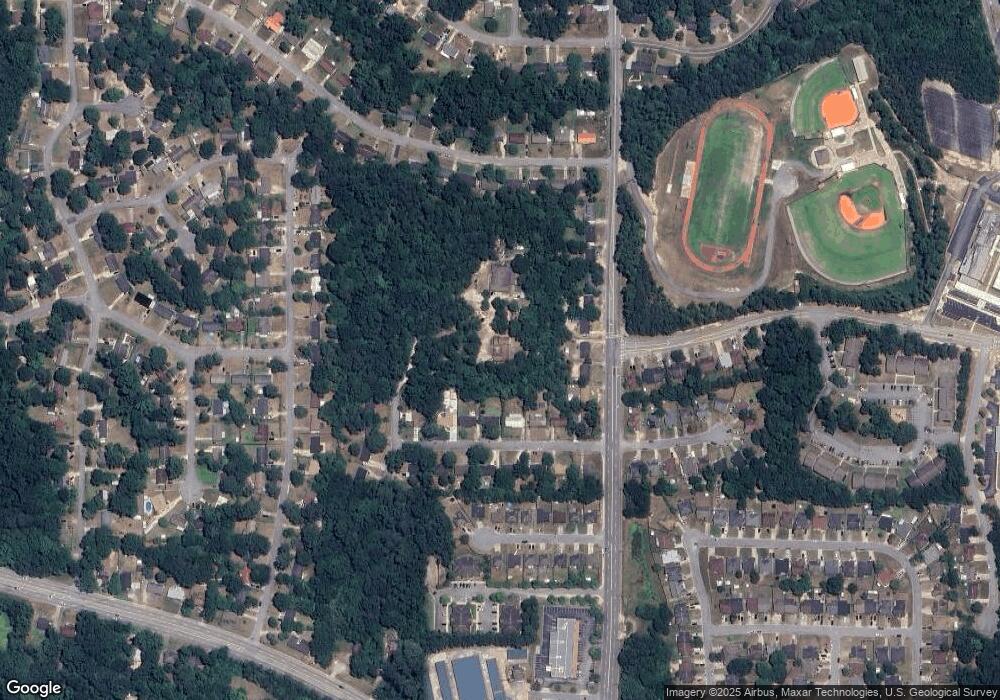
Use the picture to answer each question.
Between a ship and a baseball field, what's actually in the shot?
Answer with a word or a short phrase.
baseball field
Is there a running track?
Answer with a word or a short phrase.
Yes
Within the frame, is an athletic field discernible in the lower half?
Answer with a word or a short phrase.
No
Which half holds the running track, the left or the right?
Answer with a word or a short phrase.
right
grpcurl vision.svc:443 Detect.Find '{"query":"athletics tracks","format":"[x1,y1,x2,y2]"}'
[680,101,771,274]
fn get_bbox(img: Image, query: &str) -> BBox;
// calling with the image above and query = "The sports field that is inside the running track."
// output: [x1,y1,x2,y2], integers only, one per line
[687,108,765,264]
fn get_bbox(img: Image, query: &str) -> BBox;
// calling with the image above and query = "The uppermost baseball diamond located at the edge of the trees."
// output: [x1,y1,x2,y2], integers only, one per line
[790,57,859,138]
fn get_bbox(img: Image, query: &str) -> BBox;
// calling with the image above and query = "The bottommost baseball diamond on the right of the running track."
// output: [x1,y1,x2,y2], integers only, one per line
[786,163,907,286]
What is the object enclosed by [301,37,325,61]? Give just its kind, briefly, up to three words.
house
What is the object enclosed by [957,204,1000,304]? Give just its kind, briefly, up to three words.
building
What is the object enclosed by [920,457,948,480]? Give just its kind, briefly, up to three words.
building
